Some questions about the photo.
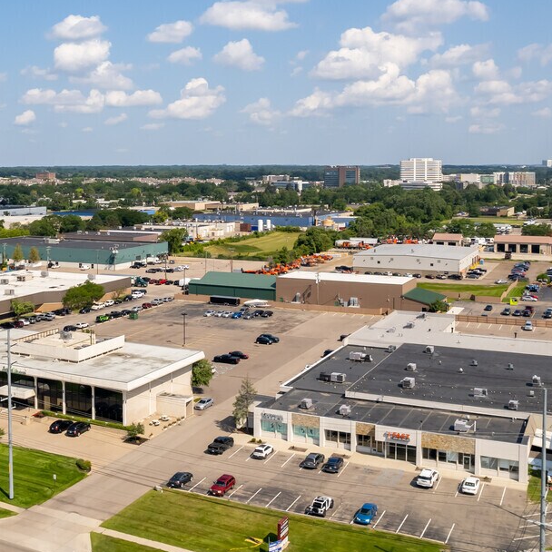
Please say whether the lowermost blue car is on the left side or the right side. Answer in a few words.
right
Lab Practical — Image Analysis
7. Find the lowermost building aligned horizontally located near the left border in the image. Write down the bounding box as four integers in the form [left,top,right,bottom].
[0,327,206,425]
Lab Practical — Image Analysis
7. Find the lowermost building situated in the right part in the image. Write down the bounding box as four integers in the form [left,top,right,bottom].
[259,309,552,480]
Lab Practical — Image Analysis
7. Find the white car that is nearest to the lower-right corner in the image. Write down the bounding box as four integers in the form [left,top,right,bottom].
[461,478,480,496]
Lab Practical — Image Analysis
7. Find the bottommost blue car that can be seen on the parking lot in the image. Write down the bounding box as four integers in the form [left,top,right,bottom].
[354,503,378,524]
